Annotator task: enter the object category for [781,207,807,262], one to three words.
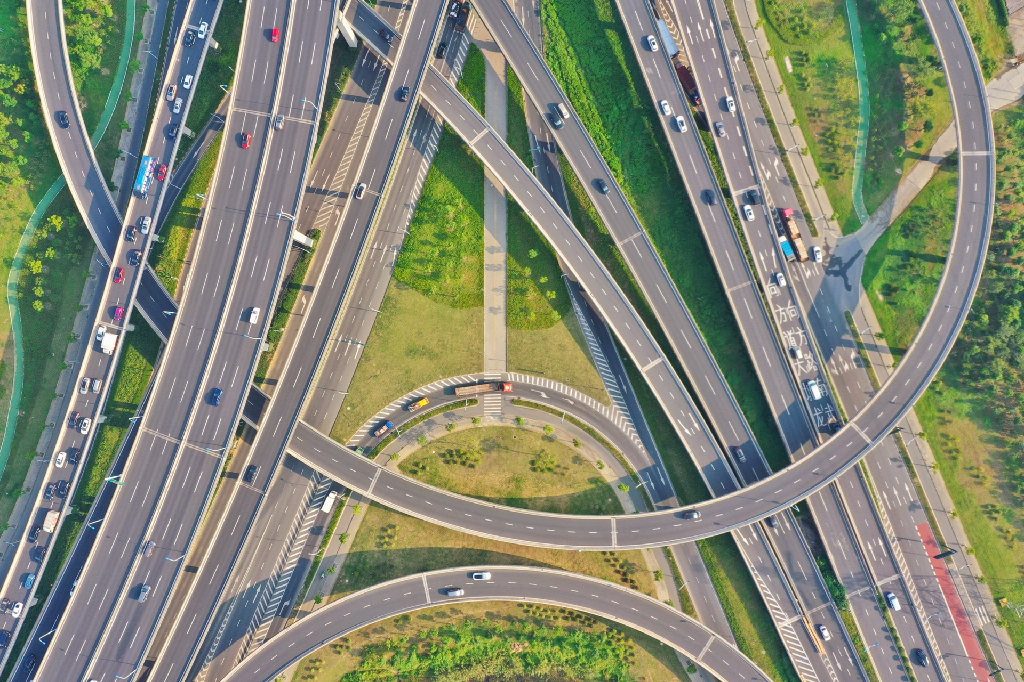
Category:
truck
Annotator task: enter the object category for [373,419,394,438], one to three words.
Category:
vehicle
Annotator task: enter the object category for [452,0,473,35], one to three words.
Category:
truck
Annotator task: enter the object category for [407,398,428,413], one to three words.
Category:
vehicle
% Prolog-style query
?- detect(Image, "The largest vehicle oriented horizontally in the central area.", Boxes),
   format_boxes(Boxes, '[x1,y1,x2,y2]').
[454,382,511,395]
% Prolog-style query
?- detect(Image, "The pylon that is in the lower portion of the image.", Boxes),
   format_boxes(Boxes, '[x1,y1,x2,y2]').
[999,602,1024,654]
